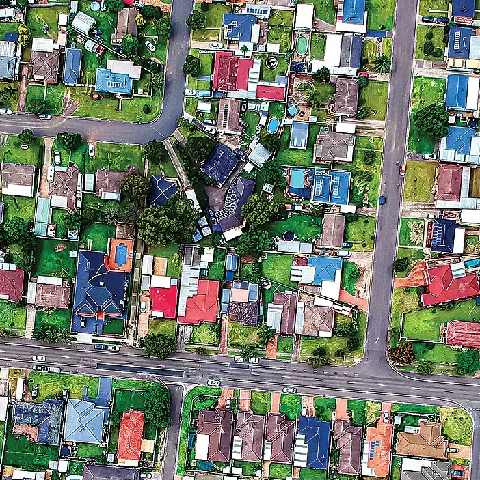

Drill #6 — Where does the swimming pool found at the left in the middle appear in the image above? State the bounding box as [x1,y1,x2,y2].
[112,243,128,267]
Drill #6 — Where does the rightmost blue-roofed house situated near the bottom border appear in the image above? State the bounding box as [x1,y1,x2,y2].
[294,416,331,473]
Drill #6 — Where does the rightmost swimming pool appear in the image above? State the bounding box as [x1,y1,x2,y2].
[463,257,480,269]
